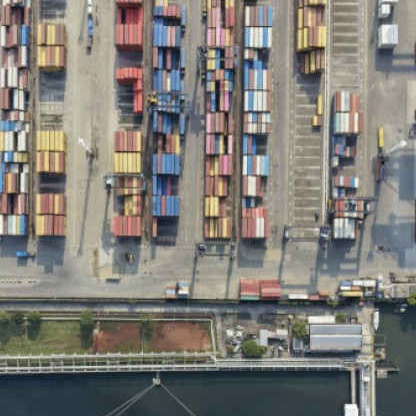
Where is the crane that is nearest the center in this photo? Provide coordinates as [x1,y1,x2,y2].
[193,240,239,260]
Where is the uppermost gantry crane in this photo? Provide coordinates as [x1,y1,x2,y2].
[194,46,240,75]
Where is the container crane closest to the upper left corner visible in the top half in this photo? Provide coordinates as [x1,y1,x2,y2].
[147,93,191,121]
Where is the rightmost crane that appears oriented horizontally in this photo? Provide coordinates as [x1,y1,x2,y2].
[322,195,376,218]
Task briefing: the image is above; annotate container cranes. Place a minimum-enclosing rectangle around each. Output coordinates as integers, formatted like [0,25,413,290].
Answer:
[193,240,239,260]
[278,225,330,245]
[102,173,150,197]
[322,195,376,218]
[147,93,191,121]
[194,46,240,75]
